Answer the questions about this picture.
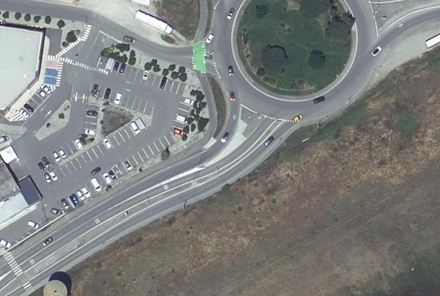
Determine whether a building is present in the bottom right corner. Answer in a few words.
No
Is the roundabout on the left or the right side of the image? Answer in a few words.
right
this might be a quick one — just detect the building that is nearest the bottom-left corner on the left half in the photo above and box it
[0,192,29,222]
